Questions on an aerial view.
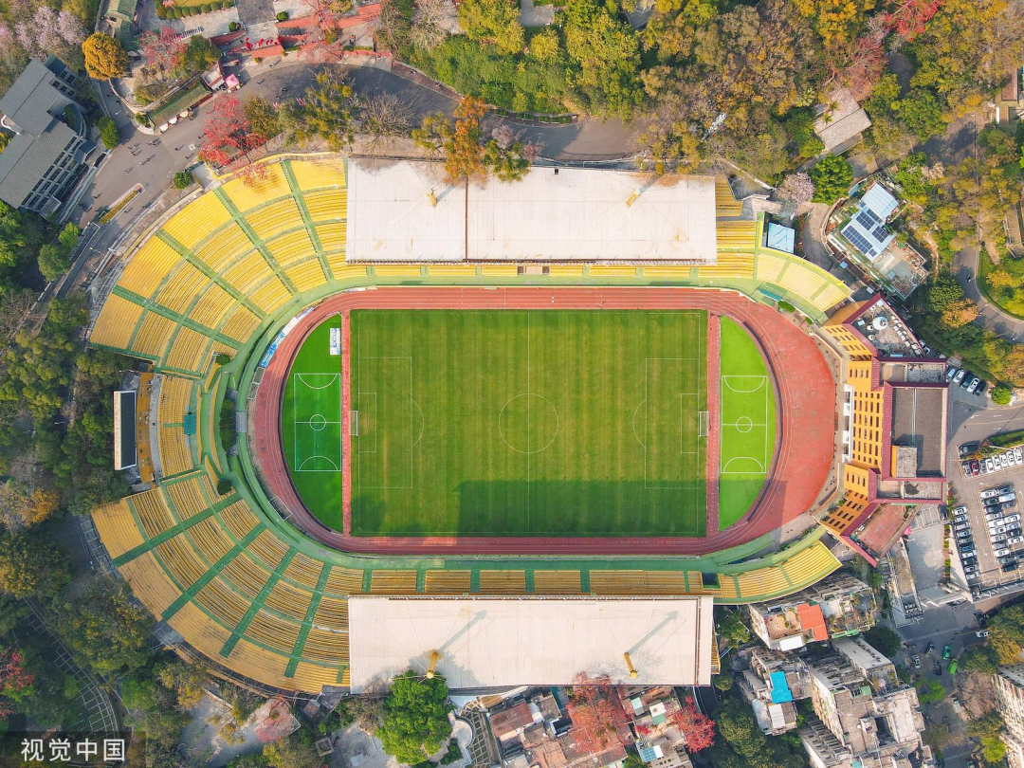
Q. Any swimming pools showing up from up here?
No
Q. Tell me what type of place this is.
sports ground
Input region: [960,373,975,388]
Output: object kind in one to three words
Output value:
car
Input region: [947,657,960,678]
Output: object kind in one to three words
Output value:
vehicle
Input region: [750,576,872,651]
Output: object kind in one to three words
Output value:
building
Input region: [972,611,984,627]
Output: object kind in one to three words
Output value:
vehicle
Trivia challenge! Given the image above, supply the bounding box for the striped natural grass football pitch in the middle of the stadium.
[350,309,707,537]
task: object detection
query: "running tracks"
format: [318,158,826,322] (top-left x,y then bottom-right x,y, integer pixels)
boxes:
[255,289,836,555]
